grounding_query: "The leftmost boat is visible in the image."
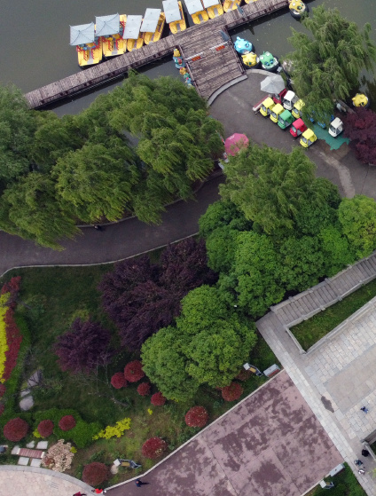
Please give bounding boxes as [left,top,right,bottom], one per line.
[65,18,102,64]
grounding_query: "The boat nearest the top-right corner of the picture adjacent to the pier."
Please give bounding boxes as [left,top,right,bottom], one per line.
[287,1,308,20]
